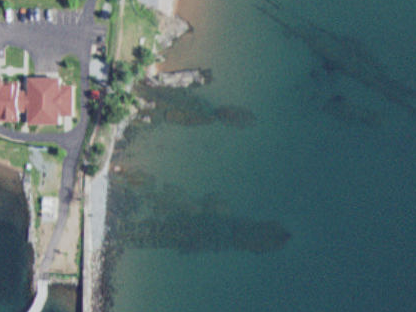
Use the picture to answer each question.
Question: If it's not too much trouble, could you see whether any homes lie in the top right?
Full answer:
No, no home appears in the top right.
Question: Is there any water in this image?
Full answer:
Yes, some water is visible.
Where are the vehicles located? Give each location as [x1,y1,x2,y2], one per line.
[34,8,41,22]
[46,9,54,23]
[98,10,112,18]
[20,8,26,22]
[5,8,12,23]
[28,8,34,22]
